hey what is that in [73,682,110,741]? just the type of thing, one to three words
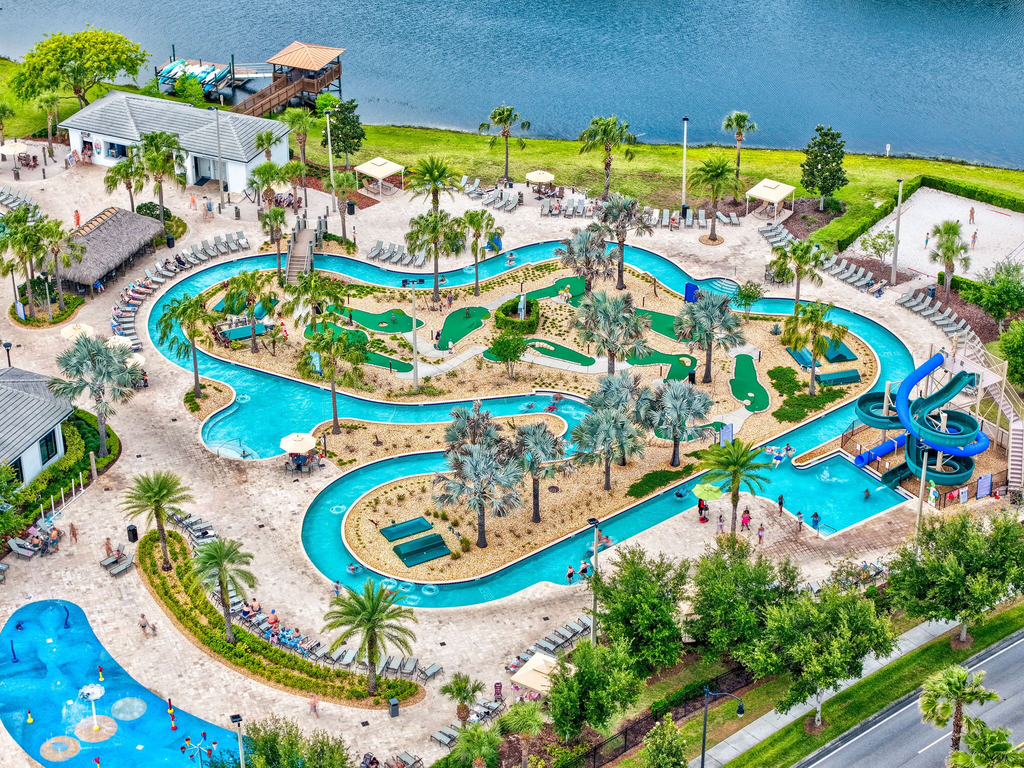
fountain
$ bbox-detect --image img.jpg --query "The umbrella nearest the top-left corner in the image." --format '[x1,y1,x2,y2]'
[0,140,31,172]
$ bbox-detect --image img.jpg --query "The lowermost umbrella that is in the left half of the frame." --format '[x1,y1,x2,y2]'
[276,434,319,458]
